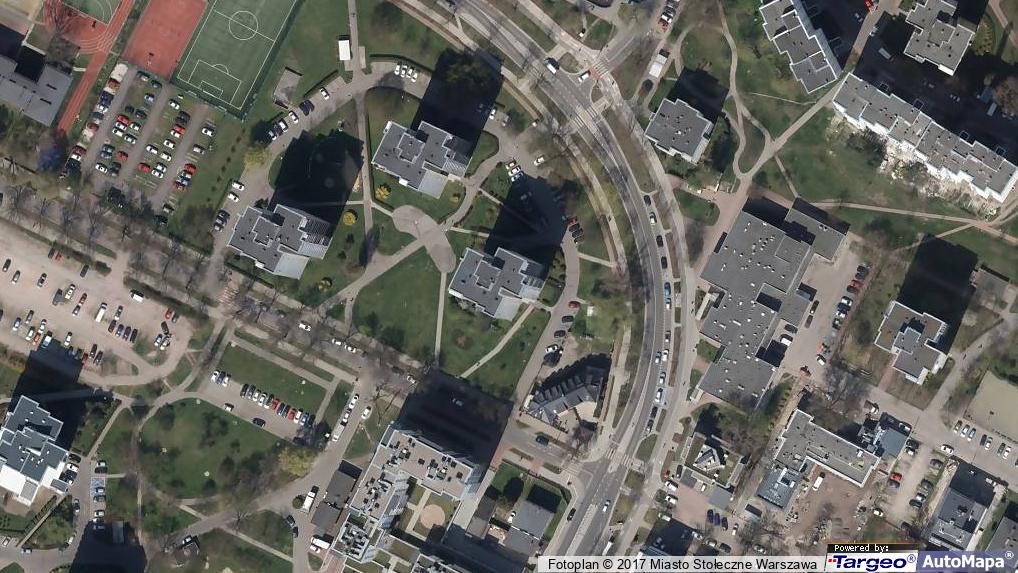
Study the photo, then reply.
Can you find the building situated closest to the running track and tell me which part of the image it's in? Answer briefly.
top left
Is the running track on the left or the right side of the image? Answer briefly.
left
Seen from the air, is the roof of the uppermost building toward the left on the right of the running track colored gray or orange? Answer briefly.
gray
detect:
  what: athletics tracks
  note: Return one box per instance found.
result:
[43,0,135,140]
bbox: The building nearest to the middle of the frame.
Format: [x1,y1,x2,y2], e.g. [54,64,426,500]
[448,248,548,319]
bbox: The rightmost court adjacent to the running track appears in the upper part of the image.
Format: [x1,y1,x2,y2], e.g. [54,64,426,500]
[120,0,211,83]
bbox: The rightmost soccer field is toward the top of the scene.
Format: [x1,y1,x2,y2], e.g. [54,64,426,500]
[171,0,304,123]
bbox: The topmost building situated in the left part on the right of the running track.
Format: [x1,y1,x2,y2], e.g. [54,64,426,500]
[273,68,304,104]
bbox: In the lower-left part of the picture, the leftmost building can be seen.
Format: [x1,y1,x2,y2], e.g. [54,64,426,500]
[0,395,92,504]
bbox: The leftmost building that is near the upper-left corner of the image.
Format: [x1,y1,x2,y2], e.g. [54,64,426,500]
[0,56,82,129]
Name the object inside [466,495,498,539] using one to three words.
shed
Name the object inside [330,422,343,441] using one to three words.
vehicle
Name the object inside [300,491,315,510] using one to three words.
vehicle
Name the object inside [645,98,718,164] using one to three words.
building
